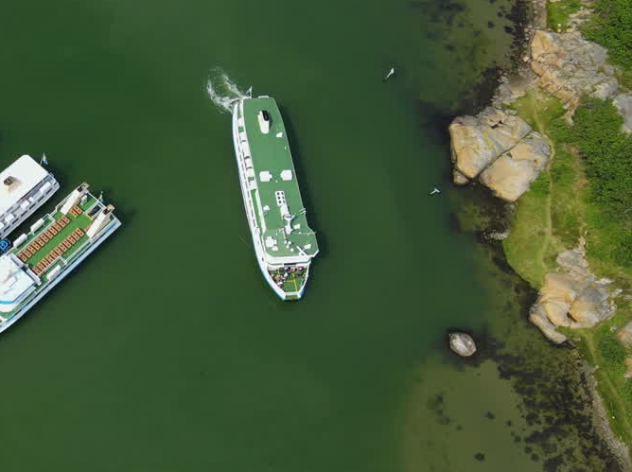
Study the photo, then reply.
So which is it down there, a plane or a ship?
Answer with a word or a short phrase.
ship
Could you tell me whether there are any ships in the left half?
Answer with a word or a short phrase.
Yes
